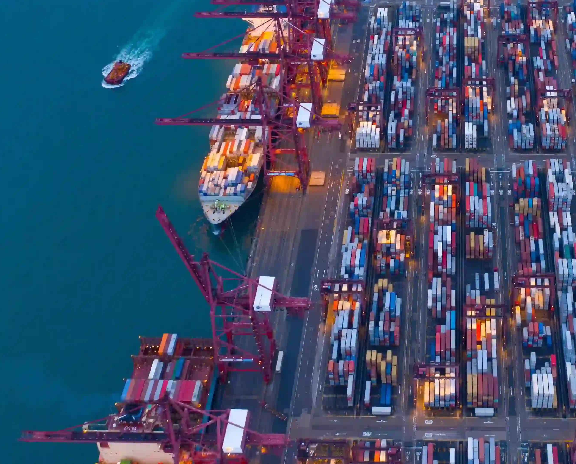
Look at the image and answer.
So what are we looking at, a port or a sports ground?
port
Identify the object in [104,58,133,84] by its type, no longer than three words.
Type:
boat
